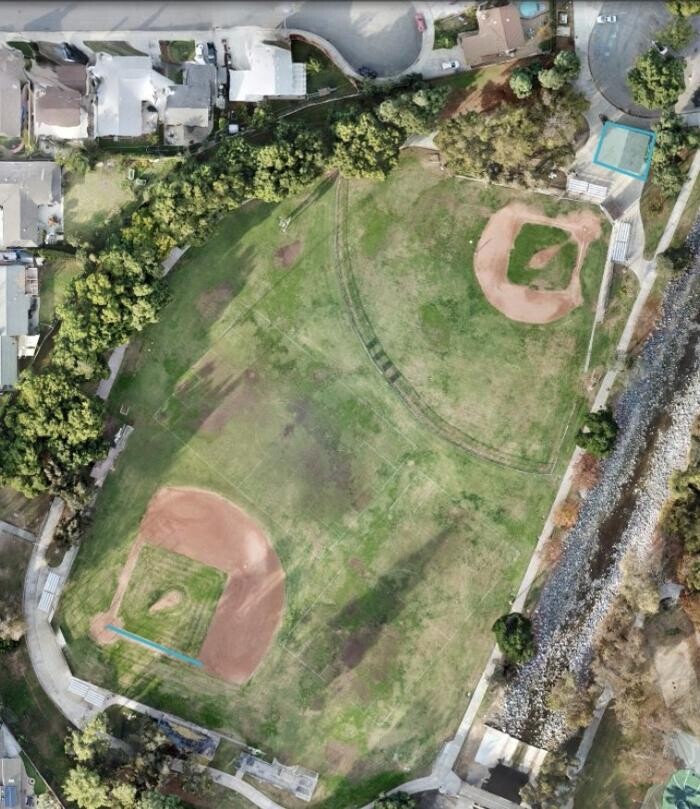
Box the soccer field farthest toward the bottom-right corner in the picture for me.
[283,474,520,722]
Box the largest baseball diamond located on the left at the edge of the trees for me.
[60,460,307,726]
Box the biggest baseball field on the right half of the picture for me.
[337,160,610,472]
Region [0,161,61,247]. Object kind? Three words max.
house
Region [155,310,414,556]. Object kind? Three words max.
soccer field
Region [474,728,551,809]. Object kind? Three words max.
dam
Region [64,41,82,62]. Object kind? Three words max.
car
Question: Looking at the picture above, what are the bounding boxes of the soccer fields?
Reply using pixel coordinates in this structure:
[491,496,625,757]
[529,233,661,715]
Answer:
[283,474,520,722]
[155,310,414,556]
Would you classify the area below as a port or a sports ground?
sports ground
